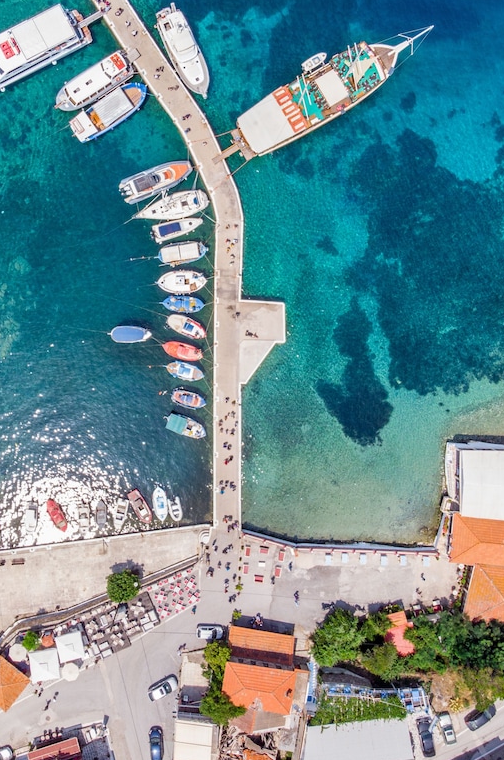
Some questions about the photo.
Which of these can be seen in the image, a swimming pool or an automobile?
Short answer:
automobile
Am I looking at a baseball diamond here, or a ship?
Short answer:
ship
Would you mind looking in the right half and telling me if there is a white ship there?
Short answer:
Yes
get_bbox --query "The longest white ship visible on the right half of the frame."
[231,25,434,160]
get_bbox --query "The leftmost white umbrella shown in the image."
[10,642,27,659]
